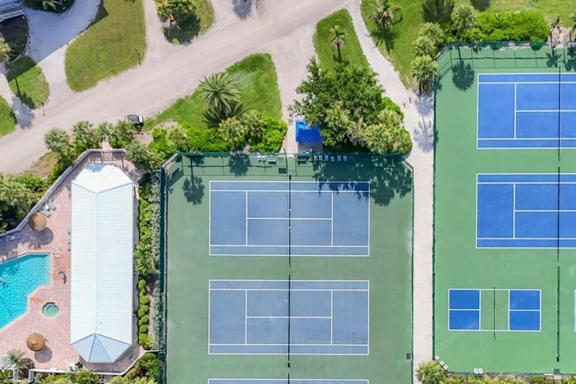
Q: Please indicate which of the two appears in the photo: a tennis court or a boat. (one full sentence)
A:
It is a tennis court that can be seen here.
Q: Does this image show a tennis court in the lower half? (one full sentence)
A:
Yes, a tennis court appears in the lower half.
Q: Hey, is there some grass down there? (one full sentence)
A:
Yes, grass can be seen from above here.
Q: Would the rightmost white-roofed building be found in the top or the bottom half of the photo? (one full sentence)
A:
The rightmost white-roofed building sits in the bottom half of the picture.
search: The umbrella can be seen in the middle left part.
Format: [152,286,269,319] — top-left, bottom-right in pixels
[29,212,47,231]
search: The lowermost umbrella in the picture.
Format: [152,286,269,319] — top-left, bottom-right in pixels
[27,333,46,352]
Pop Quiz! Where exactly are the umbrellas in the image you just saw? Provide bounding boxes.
[29,212,47,231]
[27,333,46,352]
